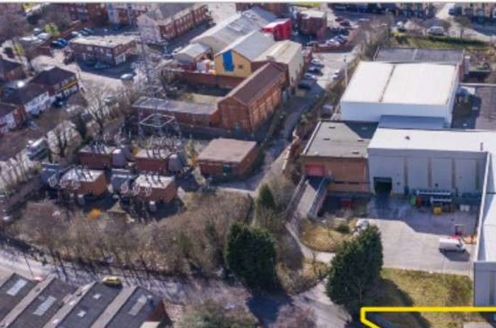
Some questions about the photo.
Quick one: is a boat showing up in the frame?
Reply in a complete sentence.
No, I can see no boat in this picture.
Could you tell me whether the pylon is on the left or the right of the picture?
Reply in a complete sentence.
The pylon is on the left side of the image.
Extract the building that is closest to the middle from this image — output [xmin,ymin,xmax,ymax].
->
[198,141,259,180]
